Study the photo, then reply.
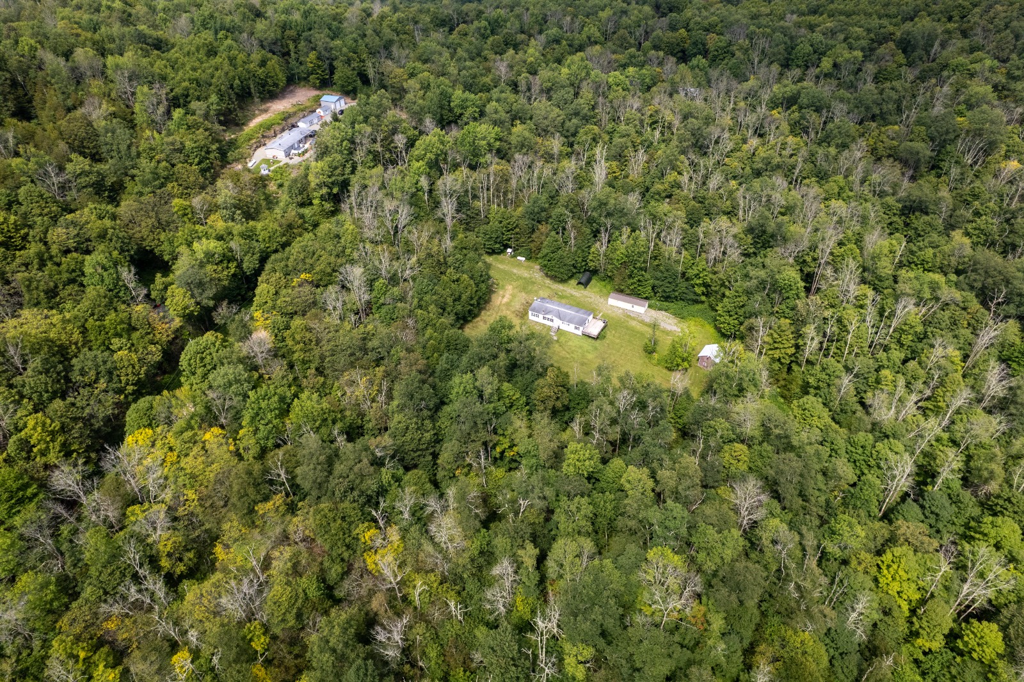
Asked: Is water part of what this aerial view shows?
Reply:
No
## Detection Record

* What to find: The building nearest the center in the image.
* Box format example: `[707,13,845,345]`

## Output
[527,297,595,334]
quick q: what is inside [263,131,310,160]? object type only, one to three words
house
